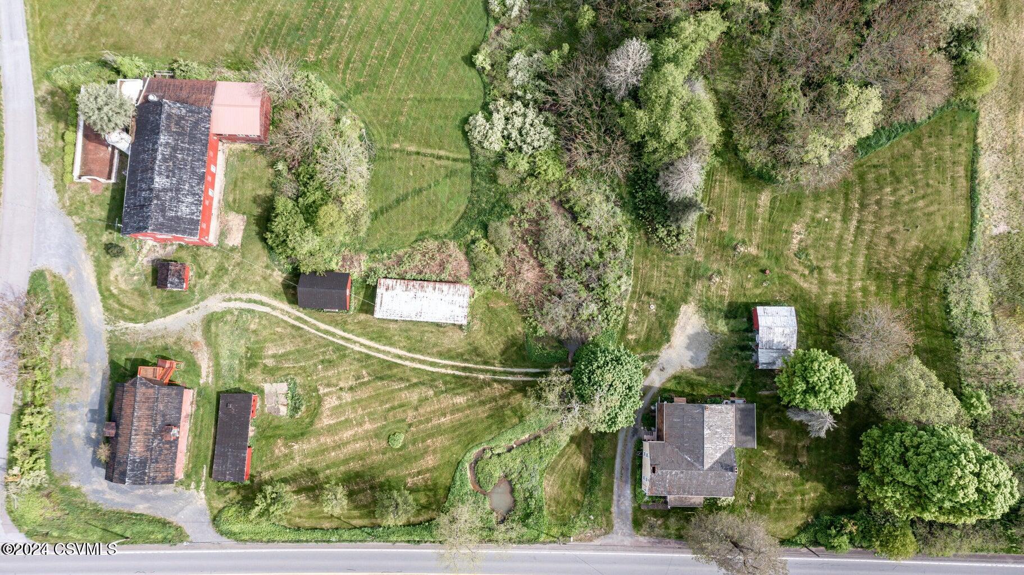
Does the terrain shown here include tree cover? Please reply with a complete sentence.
Yes, there is tree cover in the image.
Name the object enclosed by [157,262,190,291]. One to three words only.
shed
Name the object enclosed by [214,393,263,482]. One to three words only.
shed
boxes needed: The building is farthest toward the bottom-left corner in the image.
[102,360,190,485]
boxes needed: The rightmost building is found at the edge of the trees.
[748,306,797,369]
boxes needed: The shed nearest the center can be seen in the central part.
[376,279,471,325]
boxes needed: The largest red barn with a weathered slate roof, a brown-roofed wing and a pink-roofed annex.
[122,77,273,245]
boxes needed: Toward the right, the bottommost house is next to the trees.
[642,396,756,508]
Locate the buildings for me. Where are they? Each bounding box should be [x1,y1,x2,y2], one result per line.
[748,306,797,369]
[376,279,471,325]
[157,262,190,291]
[122,77,273,245]
[214,393,263,482]
[298,271,353,312]
[102,360,190,485]
[642,396,756,508]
